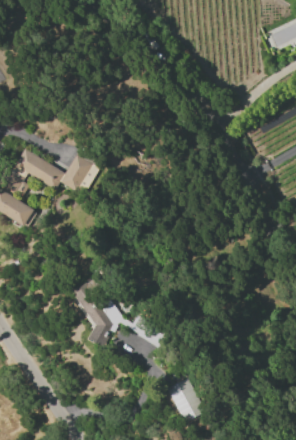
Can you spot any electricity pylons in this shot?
No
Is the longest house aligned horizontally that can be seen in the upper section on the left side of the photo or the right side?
left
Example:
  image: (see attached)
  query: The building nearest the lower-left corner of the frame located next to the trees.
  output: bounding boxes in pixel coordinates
[74,290,124,346]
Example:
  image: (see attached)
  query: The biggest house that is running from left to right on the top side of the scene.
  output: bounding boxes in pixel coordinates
[22,150,100,190]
